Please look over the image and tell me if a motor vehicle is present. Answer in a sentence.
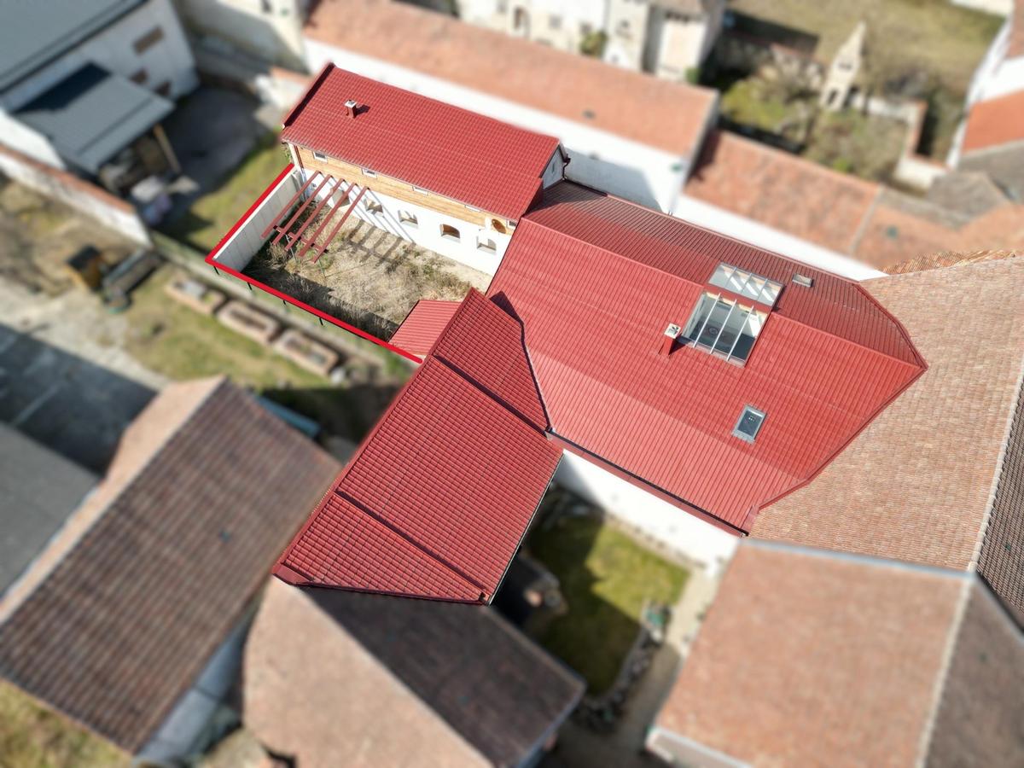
No, there's no motor vehicle here.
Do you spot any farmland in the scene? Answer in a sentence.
No, there's no farmland in this view.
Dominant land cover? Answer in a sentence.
The scene is dominated by buildings.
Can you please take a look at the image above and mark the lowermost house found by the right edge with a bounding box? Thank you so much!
[644,539,1024,768]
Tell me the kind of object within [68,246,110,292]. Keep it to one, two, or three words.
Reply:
shed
